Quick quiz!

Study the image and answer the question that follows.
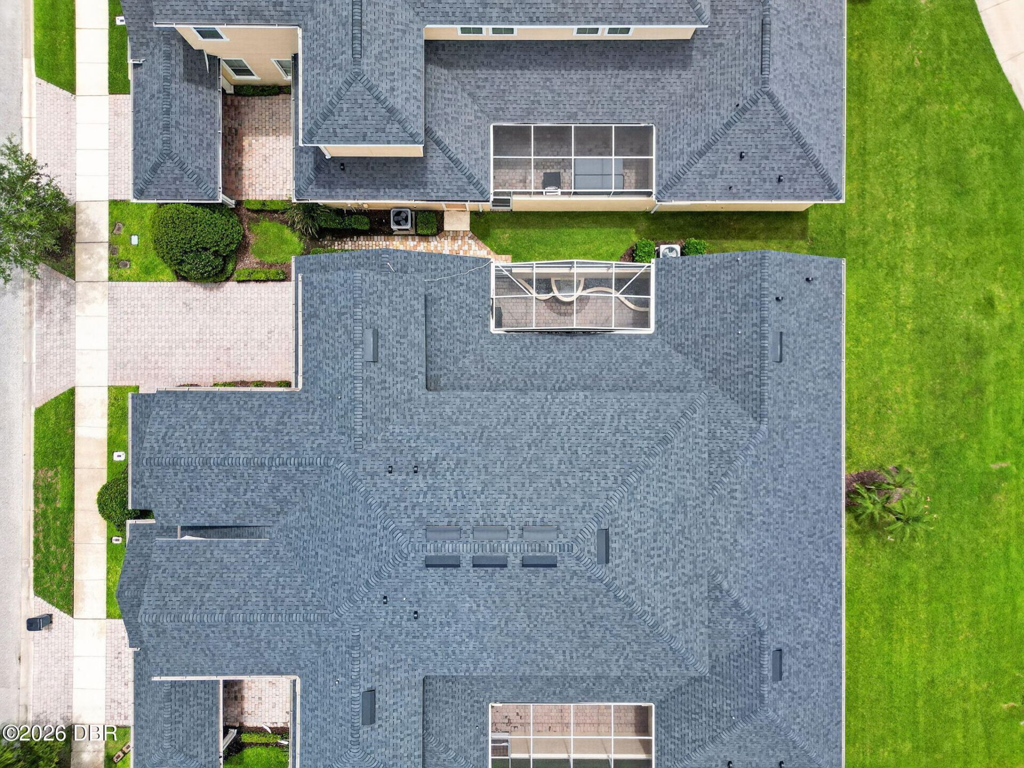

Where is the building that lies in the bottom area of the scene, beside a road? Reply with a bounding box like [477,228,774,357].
[116,249,845,768]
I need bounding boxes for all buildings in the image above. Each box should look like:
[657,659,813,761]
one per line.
[116,249,845,768]
[118,0,845,217]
